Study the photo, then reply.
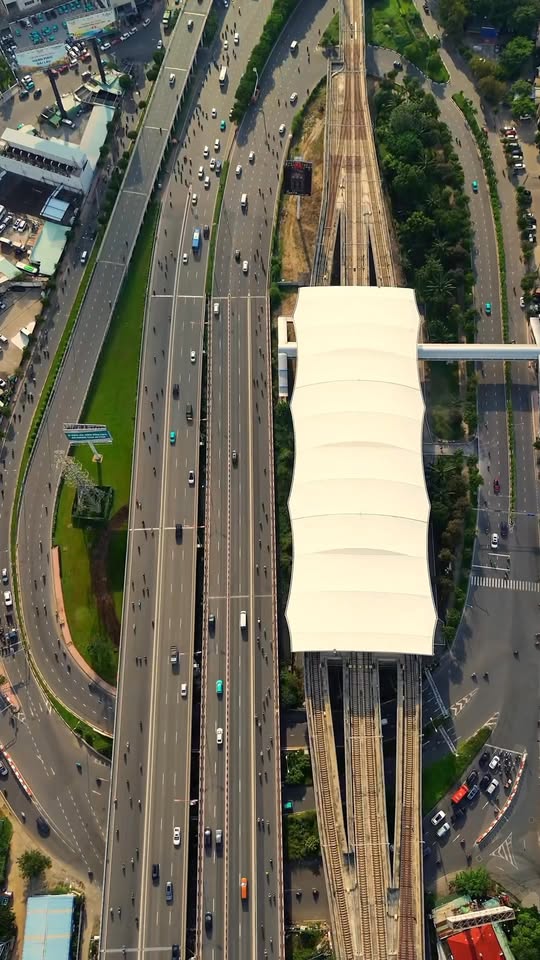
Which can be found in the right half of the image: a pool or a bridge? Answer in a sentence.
Looking in the right half of the image, you will find a bridge.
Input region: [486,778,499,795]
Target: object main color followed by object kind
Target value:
white vehicle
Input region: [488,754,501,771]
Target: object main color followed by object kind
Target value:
white vehicle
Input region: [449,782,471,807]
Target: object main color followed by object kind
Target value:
red truck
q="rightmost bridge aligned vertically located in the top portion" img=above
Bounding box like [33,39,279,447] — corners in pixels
[310,0,397,286]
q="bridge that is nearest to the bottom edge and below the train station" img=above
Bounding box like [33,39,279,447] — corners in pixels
[304,652,426,960]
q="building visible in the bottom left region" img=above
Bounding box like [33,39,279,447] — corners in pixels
[22,891,82,960]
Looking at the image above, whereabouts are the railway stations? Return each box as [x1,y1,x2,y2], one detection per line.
[278,280,438,654]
